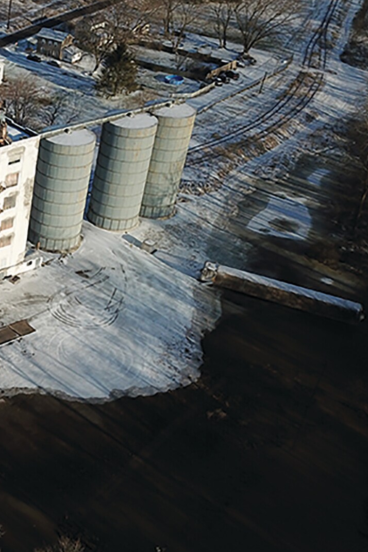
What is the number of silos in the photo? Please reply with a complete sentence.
Altogether the scene contains 3 silos.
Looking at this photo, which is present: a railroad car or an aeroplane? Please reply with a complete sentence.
I can see a railroad car in this picture.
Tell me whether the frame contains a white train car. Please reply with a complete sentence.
No, no white train car is visible in the scene.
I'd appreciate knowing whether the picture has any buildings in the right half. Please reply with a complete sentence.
No, I see no building in the right half.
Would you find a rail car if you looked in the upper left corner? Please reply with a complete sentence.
No, looking in the upper left corner, there is no rail car.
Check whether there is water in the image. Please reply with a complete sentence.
Yes, some water is visible.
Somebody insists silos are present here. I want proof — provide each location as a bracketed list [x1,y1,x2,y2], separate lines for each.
[140,98,195,218]
[29,120,97,254]
[86,103,158,231]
